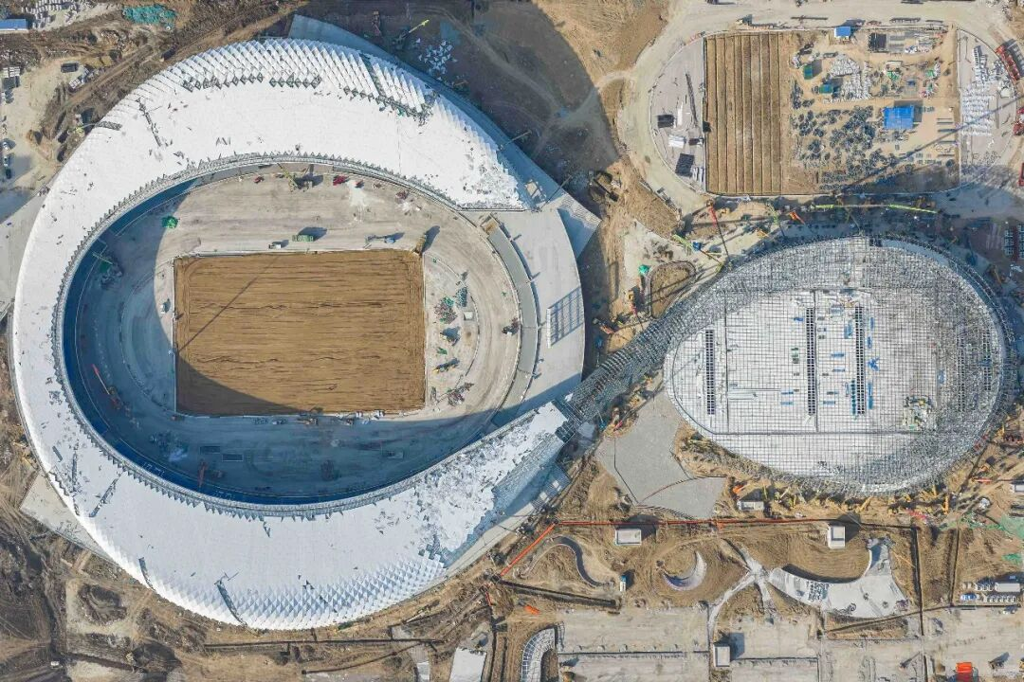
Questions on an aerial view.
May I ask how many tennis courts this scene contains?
none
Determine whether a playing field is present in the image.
Yes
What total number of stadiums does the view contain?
two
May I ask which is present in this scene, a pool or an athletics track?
athletics track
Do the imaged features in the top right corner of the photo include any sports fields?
Yes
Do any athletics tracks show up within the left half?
Yes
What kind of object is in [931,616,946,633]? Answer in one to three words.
work vehicle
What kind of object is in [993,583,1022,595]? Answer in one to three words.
building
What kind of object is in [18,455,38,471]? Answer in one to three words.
work vehicle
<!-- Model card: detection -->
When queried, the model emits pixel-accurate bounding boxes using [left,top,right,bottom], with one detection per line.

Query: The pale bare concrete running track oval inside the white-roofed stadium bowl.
[79,170,520,494]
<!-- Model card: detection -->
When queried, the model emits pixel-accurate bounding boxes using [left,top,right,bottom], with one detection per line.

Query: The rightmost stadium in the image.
[662,235,1018,496]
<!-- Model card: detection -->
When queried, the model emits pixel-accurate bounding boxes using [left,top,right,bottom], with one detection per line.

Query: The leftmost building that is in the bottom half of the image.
[615,528,642,547]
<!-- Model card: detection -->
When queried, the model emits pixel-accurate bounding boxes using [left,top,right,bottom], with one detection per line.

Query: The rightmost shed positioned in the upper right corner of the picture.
[884,103,916,128]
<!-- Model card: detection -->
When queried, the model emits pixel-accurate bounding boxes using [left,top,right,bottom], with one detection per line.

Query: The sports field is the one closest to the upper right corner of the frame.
[649,27,1017,196]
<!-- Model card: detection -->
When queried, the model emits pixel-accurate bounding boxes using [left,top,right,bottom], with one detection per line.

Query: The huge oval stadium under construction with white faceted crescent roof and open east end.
[9,15,599,631]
